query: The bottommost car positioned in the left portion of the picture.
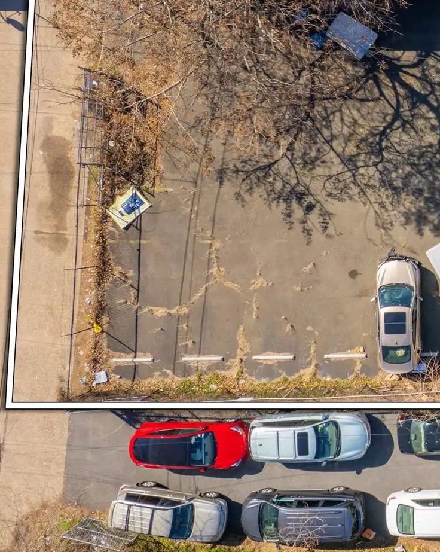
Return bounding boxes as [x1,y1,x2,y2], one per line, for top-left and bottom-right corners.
[104,478,236,545]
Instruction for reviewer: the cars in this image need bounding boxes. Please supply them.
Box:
[371,244,424,374]
[104,478,236,545]
[244,484,368,545]
[399,408,440,457]
[386,485,440,538]
[129,415,251,474]
[249,407,374,466]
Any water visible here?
No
